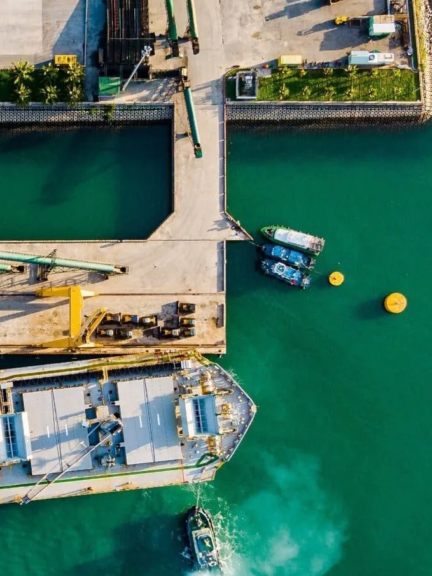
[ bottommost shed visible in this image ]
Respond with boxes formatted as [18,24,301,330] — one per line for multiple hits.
[97,76,121,102]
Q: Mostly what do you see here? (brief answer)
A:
water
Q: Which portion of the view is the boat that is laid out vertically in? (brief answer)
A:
bottom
